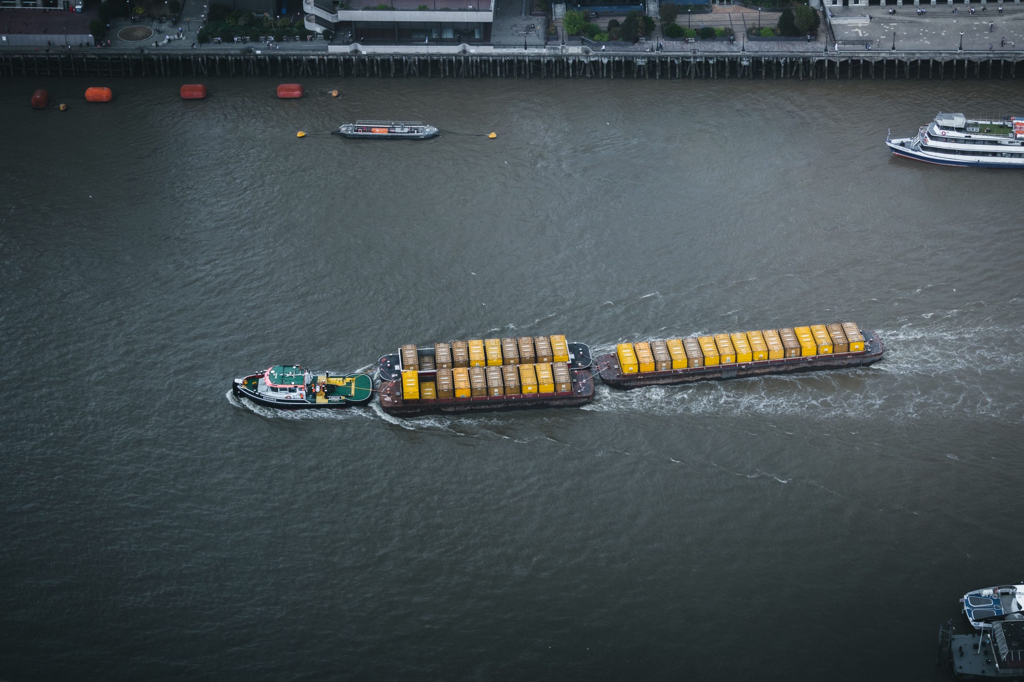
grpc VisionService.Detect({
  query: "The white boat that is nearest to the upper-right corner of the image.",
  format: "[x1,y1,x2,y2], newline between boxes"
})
[886,109,1024,170]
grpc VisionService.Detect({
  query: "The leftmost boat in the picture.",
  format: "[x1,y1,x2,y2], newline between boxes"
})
[229,365,374,410]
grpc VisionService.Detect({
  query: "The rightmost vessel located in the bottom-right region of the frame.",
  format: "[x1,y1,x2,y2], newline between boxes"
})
[957,577,1024,632]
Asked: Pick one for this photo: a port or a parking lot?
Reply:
port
